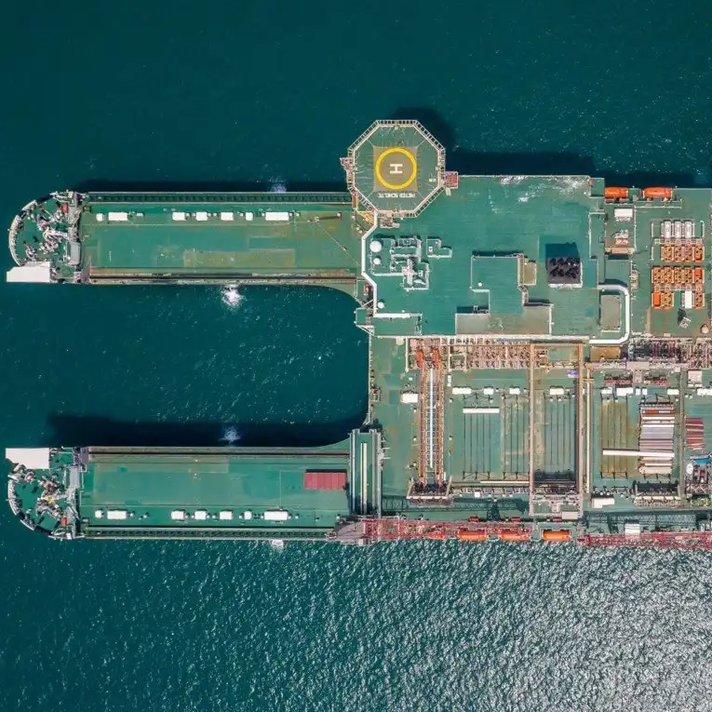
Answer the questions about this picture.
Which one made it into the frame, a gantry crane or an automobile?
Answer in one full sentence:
I can see a gantry crane in this picture.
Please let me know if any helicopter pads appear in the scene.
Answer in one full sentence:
Yes, I can see a helicopter pad in this picture.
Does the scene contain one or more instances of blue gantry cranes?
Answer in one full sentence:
No, there is no blue gantry crane in the image.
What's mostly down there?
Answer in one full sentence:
What you mostly see from above here is water.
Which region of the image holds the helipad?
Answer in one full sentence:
Look in the top portion of the view to spot the helipad.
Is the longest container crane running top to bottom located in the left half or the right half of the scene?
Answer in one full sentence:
You can find the longest container crane running top to bottom on the right side of the picture.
